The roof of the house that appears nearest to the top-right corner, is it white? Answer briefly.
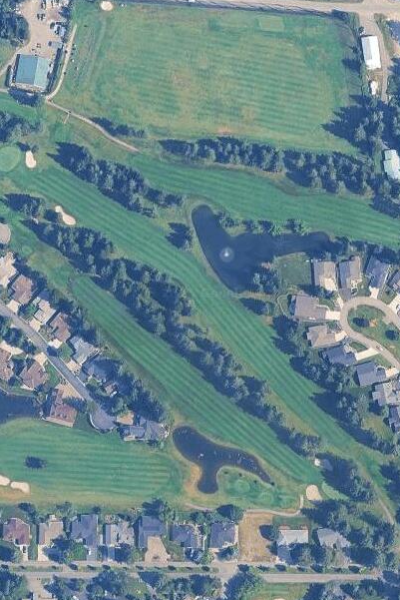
Yes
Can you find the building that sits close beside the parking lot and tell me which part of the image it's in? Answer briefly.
top left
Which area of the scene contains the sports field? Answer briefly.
top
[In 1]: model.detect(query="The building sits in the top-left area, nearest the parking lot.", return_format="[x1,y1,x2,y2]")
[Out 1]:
[16,55,50,94]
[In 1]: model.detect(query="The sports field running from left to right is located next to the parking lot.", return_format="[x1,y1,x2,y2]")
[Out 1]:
[57,1,358,154]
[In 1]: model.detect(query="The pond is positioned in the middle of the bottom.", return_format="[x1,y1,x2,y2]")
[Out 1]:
[172,426,274,493]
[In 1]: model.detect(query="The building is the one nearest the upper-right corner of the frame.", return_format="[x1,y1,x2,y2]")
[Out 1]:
[363,35,382,71]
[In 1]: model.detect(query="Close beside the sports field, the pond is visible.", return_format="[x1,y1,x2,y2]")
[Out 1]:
[191,204,347,291]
